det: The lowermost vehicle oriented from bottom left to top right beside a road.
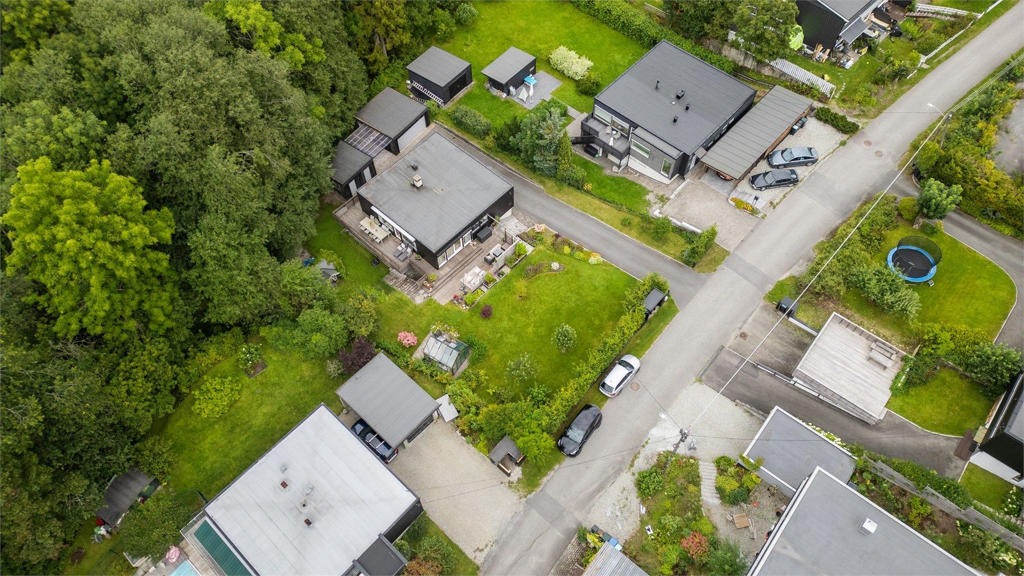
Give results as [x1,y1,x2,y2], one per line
[558,399,605,459]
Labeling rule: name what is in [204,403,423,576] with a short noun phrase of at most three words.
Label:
house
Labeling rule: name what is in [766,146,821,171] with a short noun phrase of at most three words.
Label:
car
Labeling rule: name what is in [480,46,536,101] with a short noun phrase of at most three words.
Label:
shed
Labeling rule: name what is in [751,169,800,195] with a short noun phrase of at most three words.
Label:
car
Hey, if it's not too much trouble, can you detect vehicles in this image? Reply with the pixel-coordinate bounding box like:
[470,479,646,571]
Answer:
[558,399,605,459]
[751,169,800,195]
[766,146,821,171]
[350,420,405,469]
[597,352,642,401]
